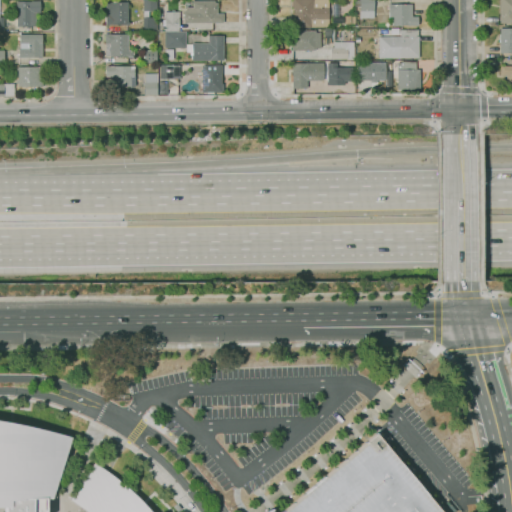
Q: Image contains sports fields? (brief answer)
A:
No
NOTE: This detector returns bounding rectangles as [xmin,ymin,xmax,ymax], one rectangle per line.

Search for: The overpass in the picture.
[438,125,486,290]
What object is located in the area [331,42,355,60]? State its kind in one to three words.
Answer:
house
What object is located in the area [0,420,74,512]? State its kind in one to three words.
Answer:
building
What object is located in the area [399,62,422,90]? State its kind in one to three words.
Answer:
house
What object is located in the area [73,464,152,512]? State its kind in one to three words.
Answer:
building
